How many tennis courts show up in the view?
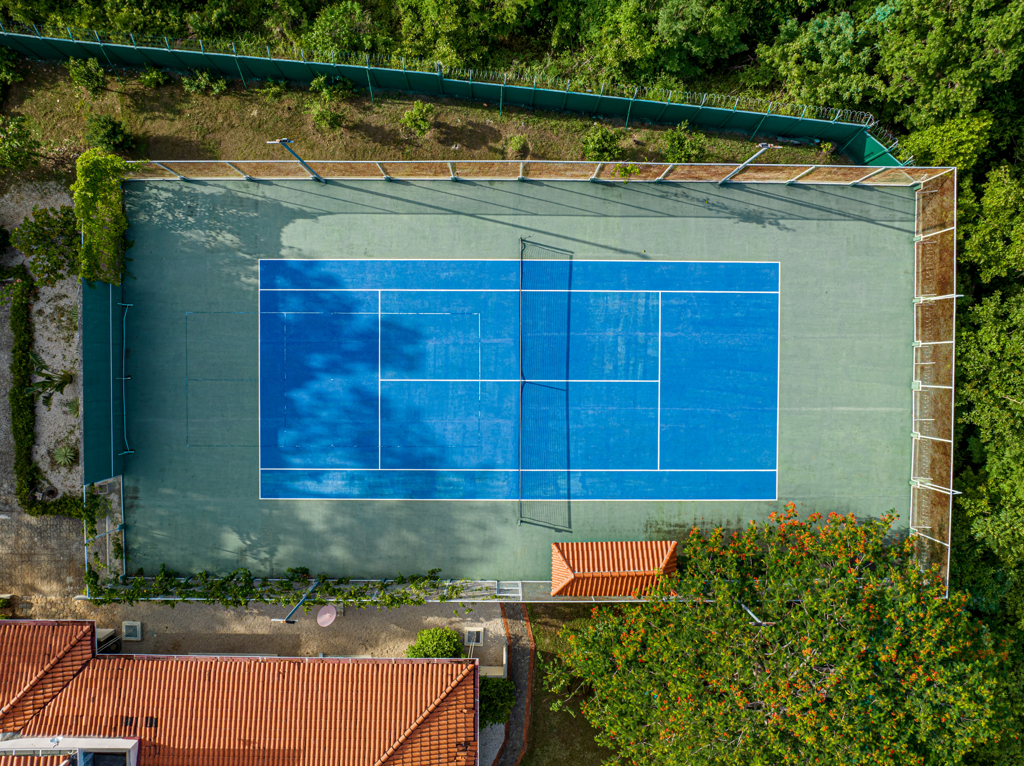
1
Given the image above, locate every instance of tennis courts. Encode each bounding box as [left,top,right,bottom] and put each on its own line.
[119,174,926,585]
